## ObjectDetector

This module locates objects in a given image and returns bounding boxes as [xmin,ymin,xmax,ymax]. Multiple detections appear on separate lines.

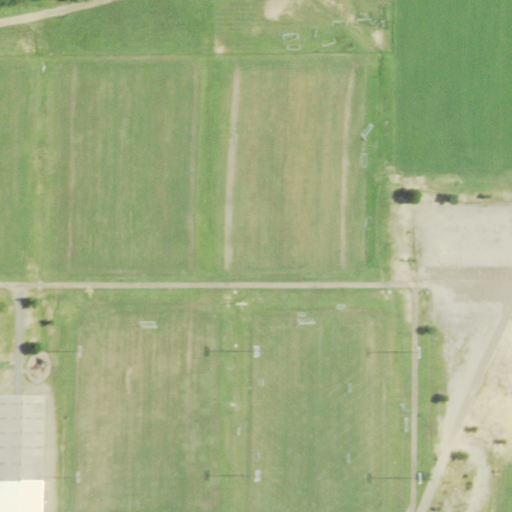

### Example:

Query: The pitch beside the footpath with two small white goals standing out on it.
[252,311,389,512]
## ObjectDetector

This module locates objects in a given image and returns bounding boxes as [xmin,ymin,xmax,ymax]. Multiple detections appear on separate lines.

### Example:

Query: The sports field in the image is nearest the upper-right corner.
[222,62,357,278]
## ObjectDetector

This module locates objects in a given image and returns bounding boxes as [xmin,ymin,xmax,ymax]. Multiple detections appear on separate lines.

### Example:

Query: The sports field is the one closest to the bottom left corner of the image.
[76,306,221,512]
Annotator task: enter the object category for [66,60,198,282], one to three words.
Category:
sports field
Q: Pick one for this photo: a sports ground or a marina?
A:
sports ground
